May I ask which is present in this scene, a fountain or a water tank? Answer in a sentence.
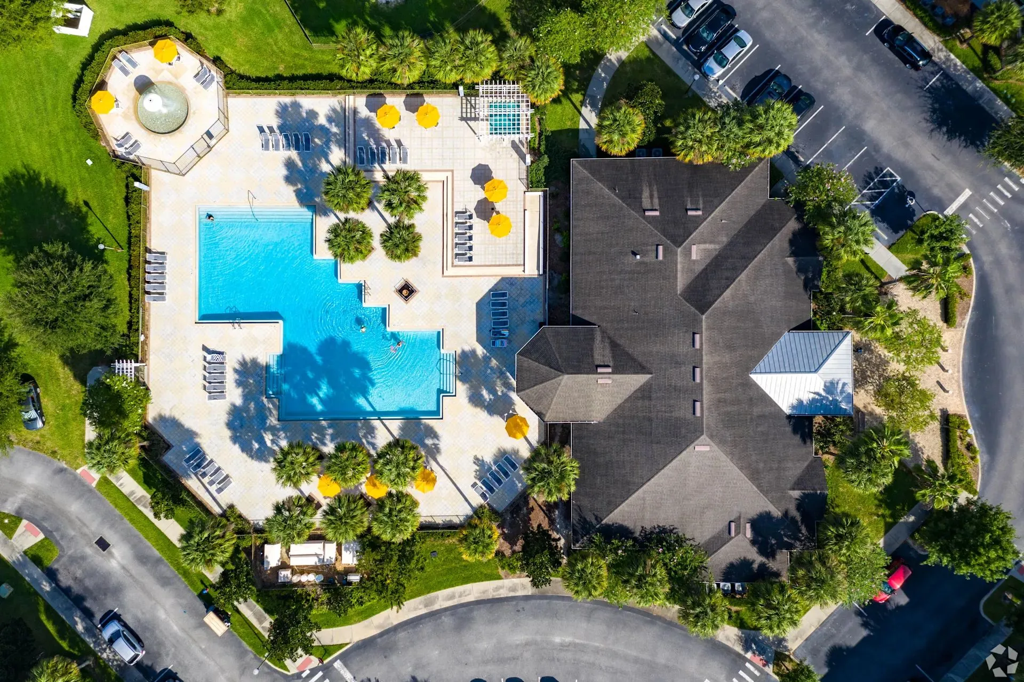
I can see a fountain in this picture.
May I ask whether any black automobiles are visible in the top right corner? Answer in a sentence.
Yes, the scene does show a black automobile in the top right corner.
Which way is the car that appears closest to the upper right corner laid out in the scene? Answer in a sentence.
The car that appears closest to the upper right corner runs diagonally in the image.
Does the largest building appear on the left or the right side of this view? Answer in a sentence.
It is on the right.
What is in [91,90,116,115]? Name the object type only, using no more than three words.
umbrella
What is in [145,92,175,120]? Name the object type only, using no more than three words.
fountain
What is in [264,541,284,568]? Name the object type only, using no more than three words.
shed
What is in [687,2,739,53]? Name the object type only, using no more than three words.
car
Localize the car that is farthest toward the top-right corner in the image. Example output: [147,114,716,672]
[881,22,934,72]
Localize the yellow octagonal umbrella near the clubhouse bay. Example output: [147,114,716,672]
[504,414,530,439]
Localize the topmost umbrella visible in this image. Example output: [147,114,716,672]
[153,38,179,64]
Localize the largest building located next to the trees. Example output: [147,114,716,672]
[515,158,853,583]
